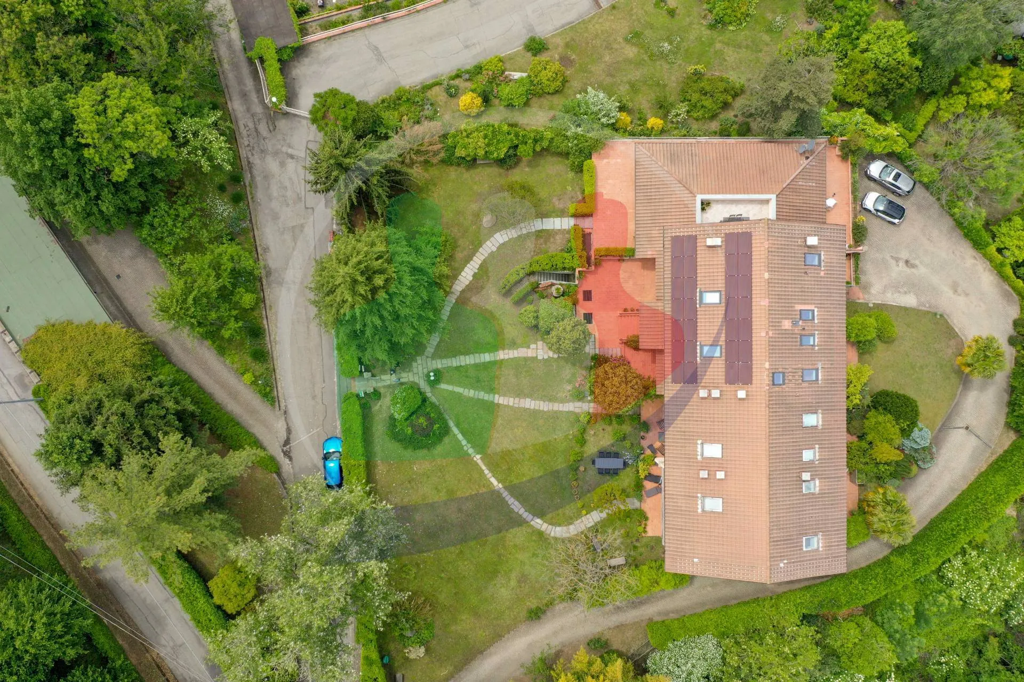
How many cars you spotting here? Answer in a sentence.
I count 3 cars.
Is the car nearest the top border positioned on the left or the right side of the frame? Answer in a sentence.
You can find the car nearest the top border on the right side of the picture.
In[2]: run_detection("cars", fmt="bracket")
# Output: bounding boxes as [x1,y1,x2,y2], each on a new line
[860,160,920,197]
[319,436,344,488]
[857,191,912,226]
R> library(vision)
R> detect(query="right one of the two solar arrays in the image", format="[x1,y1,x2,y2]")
[726,231,752,385]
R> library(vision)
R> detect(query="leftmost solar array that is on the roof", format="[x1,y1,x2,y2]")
[671,234,697,384]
